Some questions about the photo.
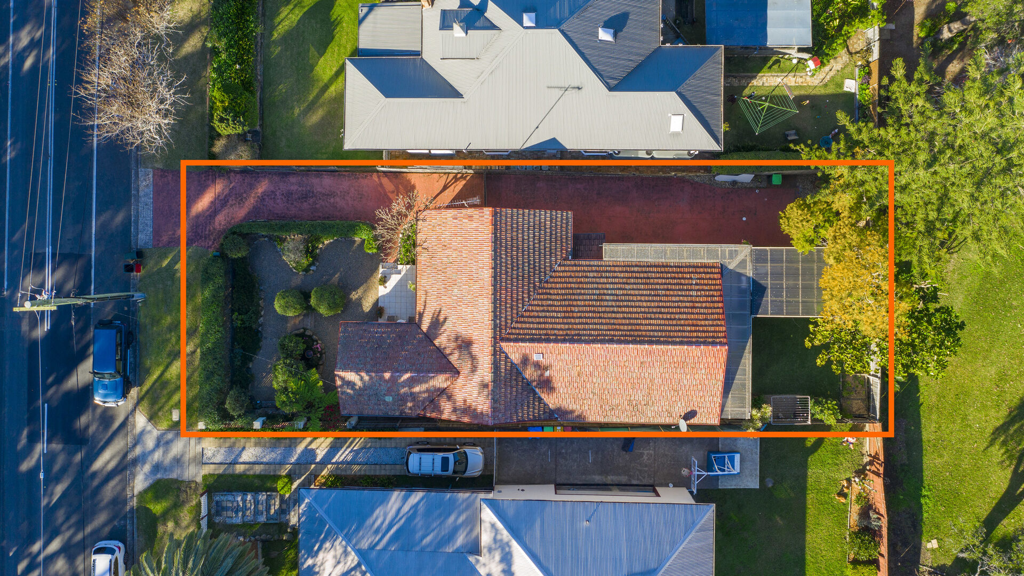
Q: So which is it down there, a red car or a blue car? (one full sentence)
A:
The image shows a blue car.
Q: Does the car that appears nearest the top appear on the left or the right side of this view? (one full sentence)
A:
The car that appears nearest the top sits on the left side.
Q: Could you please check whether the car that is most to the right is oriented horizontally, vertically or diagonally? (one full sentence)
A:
The car that is most to the right is oriented horizontally.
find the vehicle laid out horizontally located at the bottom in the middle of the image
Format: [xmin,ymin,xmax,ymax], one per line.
[406,441,486,478]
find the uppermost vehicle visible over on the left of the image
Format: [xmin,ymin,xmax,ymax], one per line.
[91,322,137,405]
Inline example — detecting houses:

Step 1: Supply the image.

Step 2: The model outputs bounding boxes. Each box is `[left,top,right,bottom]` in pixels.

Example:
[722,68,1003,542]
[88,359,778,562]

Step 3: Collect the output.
[298,479,716,576]
[344,0,724,151]
[335,206,730,426]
